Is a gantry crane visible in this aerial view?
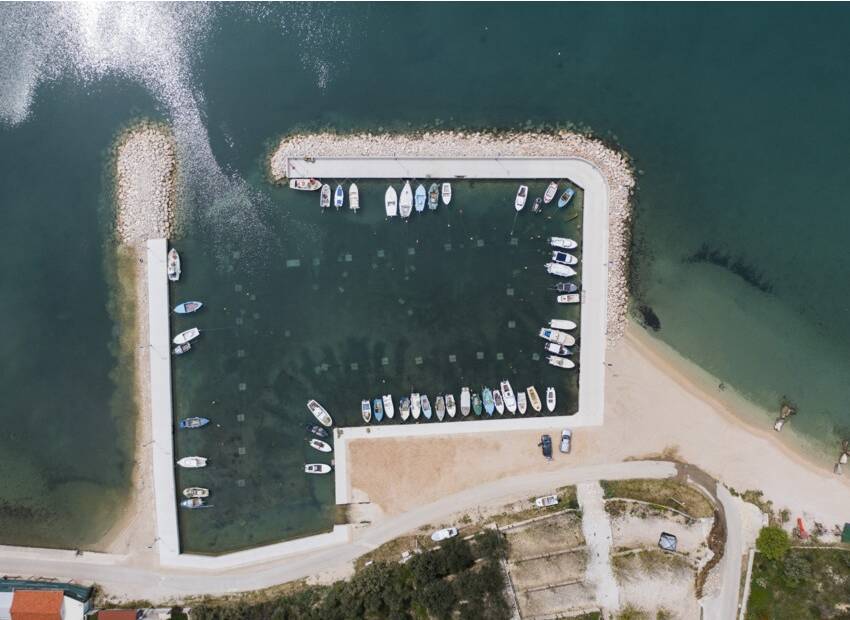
No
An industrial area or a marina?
marina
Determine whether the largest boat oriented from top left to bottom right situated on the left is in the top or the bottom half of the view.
bottom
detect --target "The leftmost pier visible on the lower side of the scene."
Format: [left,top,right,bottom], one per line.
[148,239,351,569]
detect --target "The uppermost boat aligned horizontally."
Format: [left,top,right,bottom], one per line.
[290,178,326,191]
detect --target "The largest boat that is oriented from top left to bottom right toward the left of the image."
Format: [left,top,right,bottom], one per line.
[306,399,332,427]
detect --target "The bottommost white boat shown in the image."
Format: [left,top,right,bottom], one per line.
[432,526,460,539]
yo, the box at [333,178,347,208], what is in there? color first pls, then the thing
white boat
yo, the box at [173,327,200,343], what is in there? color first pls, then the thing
white boat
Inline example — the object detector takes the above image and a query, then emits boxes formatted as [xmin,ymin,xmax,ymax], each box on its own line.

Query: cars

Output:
[559,430,573,453]
[535,435,552,457]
